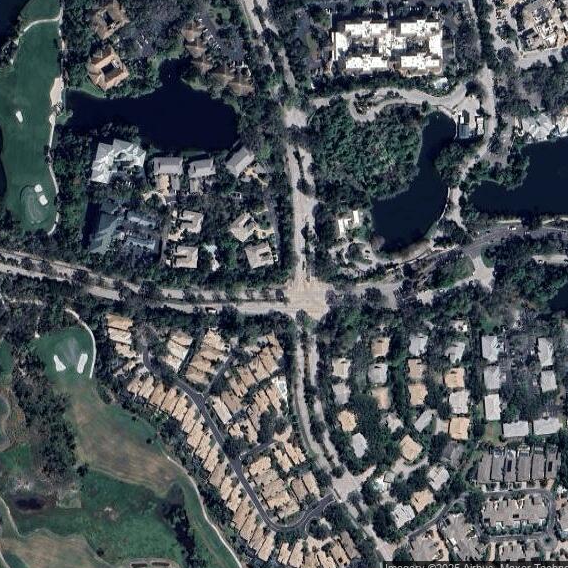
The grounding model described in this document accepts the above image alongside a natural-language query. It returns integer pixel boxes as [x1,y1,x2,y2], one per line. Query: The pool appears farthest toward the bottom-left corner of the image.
[271,376,289,416]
